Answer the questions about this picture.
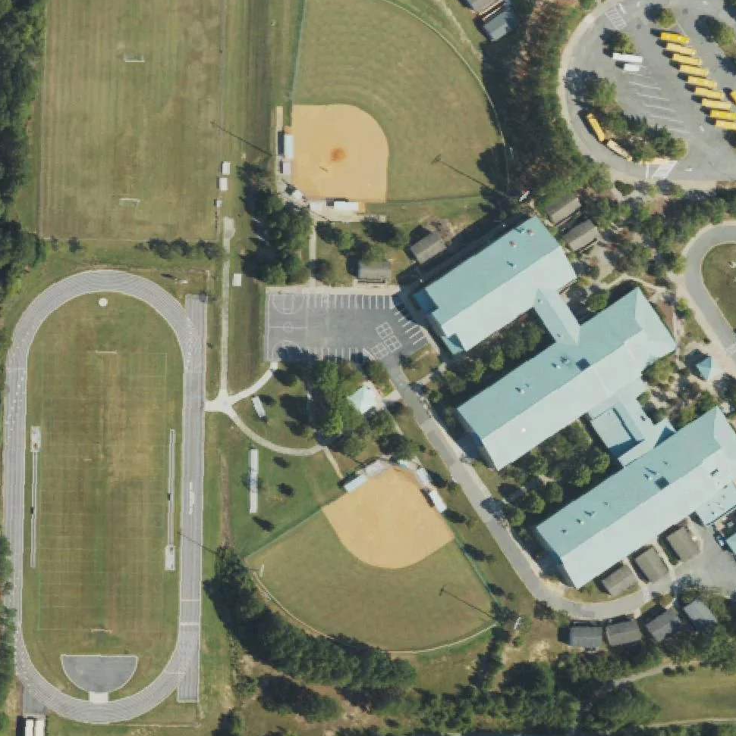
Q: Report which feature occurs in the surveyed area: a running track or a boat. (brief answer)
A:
running track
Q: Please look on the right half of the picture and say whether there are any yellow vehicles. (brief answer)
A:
Yes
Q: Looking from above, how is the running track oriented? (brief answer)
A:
from top to bottom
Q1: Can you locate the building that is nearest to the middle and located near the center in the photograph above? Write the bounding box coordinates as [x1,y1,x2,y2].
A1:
[350,382,382,412]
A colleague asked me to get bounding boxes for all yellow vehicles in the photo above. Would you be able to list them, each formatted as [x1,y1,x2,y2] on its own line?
[685,76,716,87]
[699,97,730,108]
[677,64,708,75]
[584,113,603,141]
[713,120,736,129]
[671,53,702,64]
[709,109,736,120]
[728,88,736,104]
[665,43,695,53]
[658,32,689,43]
[693,87,723,98]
